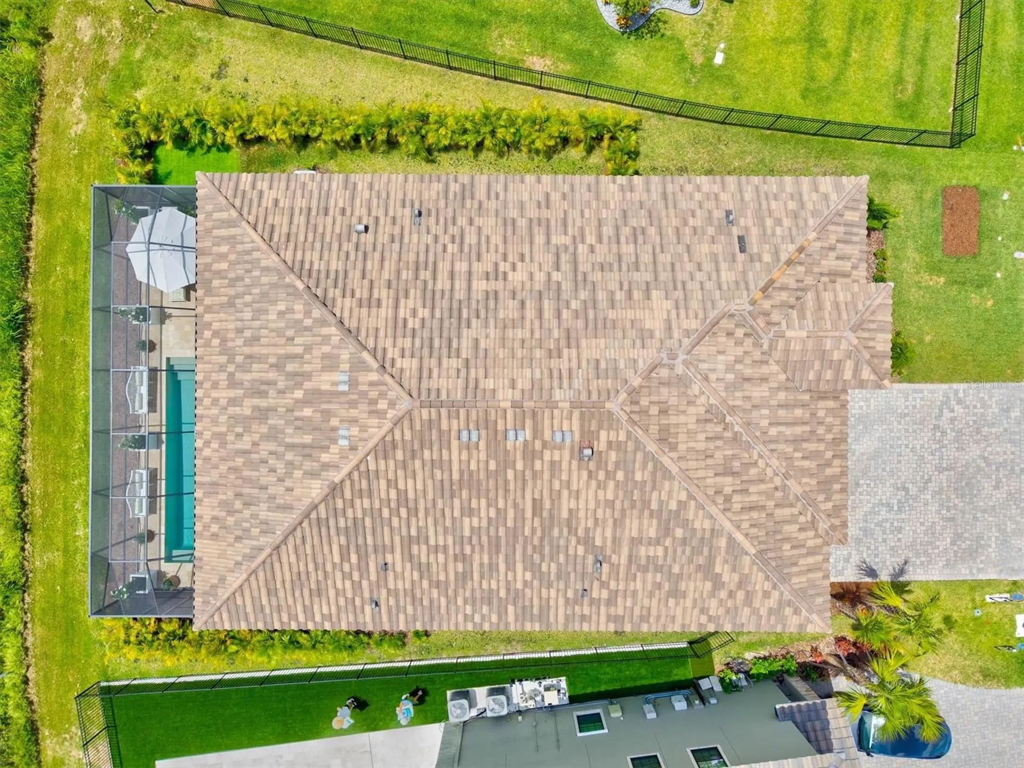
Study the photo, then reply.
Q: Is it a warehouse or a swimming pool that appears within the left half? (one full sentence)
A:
You can see a swimming pool within the left half.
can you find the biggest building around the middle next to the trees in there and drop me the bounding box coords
[191,170,896,636]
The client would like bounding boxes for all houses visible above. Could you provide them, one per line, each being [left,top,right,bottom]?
[191,170,896,636]
[436,674,876,768]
